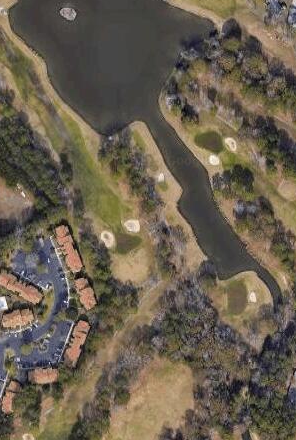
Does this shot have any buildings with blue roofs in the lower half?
No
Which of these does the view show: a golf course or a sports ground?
golf course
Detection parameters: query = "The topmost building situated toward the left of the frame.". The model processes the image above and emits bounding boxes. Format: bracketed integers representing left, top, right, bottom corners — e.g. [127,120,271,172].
[54,222,84,274]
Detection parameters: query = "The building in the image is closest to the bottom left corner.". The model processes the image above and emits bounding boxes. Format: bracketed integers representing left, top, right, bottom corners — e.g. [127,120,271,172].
[1,380,23,415]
